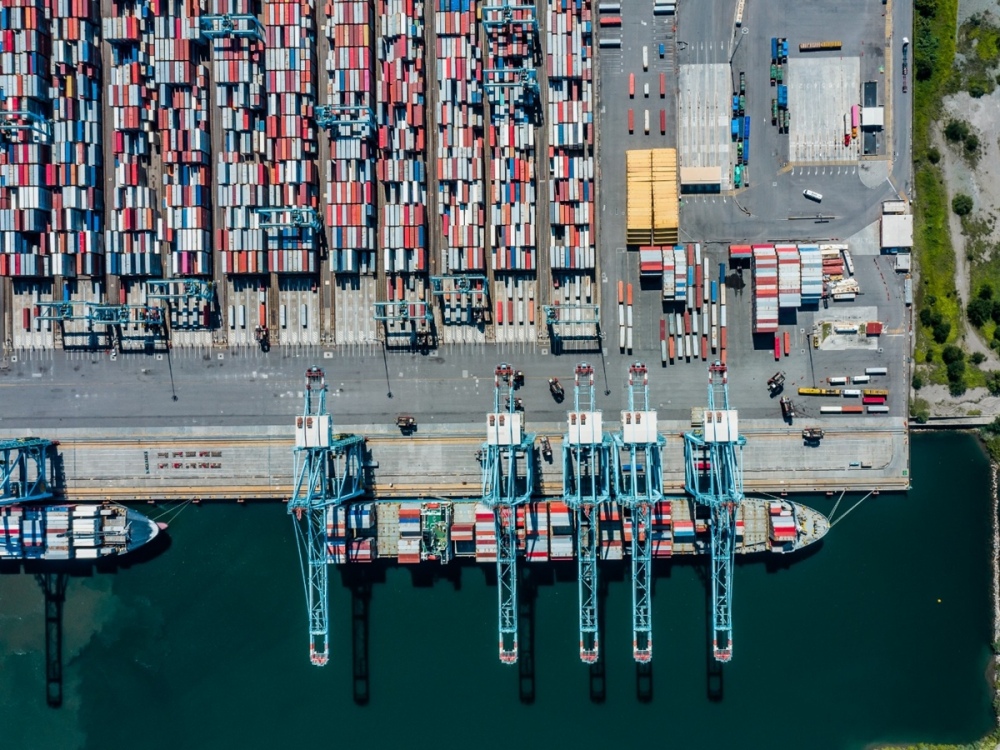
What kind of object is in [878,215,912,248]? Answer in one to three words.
shed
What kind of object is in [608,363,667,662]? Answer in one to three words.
container crane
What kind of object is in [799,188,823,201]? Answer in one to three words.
vehicle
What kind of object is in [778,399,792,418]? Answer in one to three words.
vehicle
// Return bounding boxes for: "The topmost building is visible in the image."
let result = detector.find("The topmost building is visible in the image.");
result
[862,82,877,107]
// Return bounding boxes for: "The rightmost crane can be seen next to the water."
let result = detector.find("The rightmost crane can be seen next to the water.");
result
[674,362,746,661]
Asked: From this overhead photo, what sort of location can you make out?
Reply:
port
